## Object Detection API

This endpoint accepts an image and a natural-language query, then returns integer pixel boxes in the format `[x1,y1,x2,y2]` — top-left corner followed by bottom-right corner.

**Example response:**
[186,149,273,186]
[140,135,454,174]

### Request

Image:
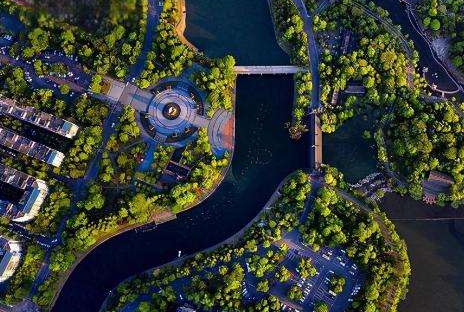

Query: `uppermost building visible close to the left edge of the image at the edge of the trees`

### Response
[0,95,77,138]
